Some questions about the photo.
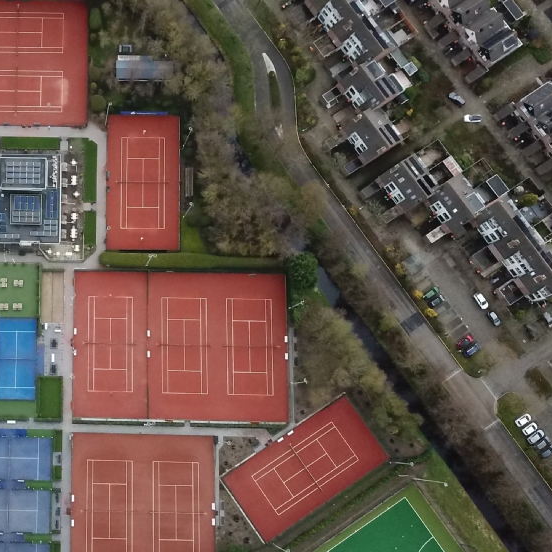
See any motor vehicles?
Yes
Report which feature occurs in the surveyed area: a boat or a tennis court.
tennis court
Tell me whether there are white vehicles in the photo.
Yes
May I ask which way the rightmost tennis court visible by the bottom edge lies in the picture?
at an angle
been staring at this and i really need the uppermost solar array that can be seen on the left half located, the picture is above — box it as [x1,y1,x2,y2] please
[5,163,40,183]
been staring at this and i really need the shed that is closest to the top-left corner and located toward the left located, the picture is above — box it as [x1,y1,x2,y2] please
[116,55,172,84]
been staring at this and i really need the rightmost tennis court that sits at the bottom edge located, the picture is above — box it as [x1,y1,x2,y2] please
[225,398,389,541]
